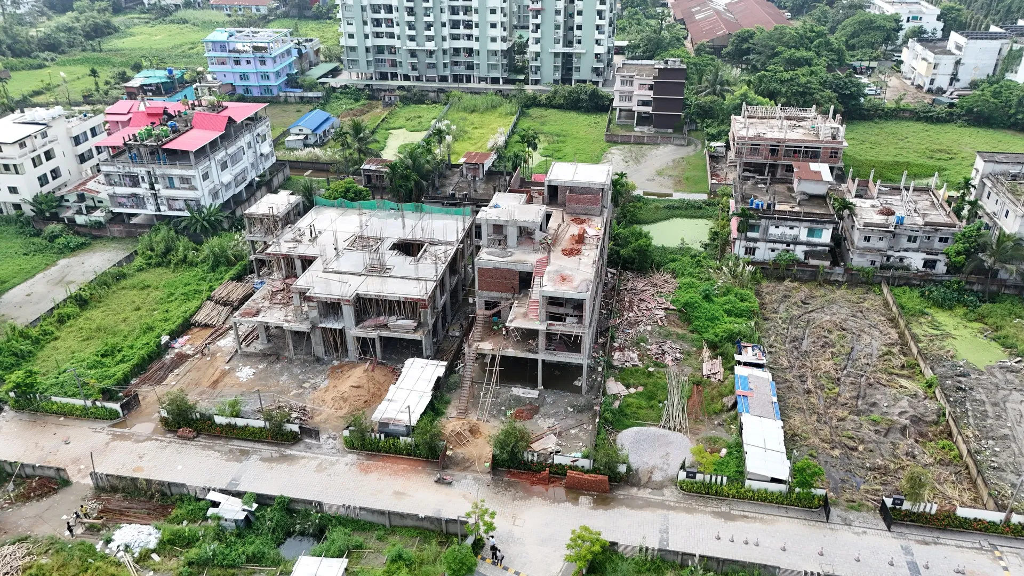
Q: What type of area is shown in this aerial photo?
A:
residential area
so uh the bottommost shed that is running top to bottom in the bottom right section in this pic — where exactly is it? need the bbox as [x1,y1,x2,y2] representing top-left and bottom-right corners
[729,364,794,486]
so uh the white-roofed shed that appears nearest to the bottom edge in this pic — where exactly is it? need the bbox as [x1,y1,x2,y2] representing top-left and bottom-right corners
[290,548,348,576]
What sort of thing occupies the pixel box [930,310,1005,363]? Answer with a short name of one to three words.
pond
